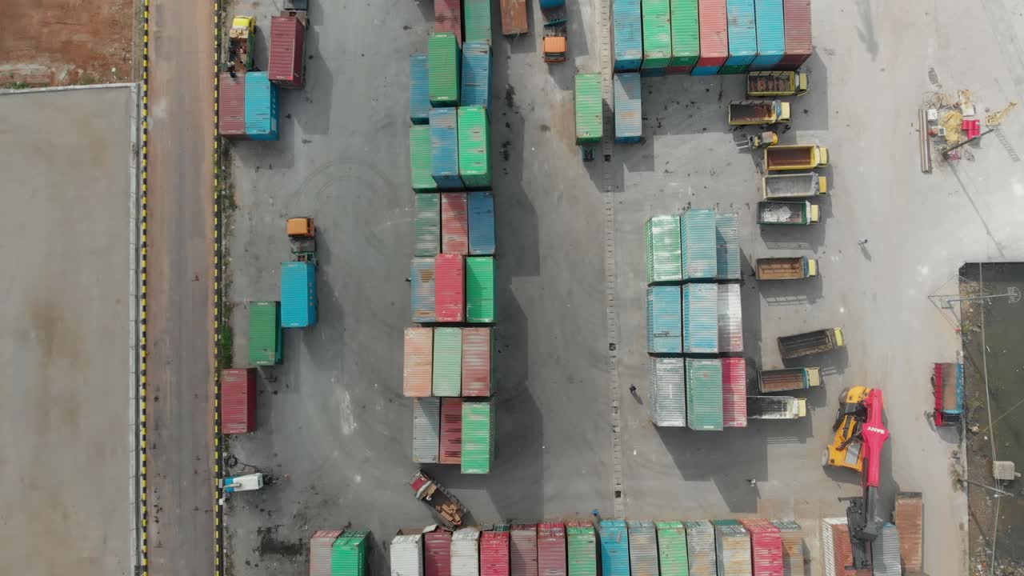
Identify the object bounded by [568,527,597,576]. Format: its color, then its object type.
green shipping container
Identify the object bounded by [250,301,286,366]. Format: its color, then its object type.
green shipping container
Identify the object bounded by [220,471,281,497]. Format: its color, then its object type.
white truck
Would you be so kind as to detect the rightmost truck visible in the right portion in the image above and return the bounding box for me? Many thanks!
[928,362,967,426]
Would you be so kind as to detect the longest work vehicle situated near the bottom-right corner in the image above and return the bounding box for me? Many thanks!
[821,383,892,574]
